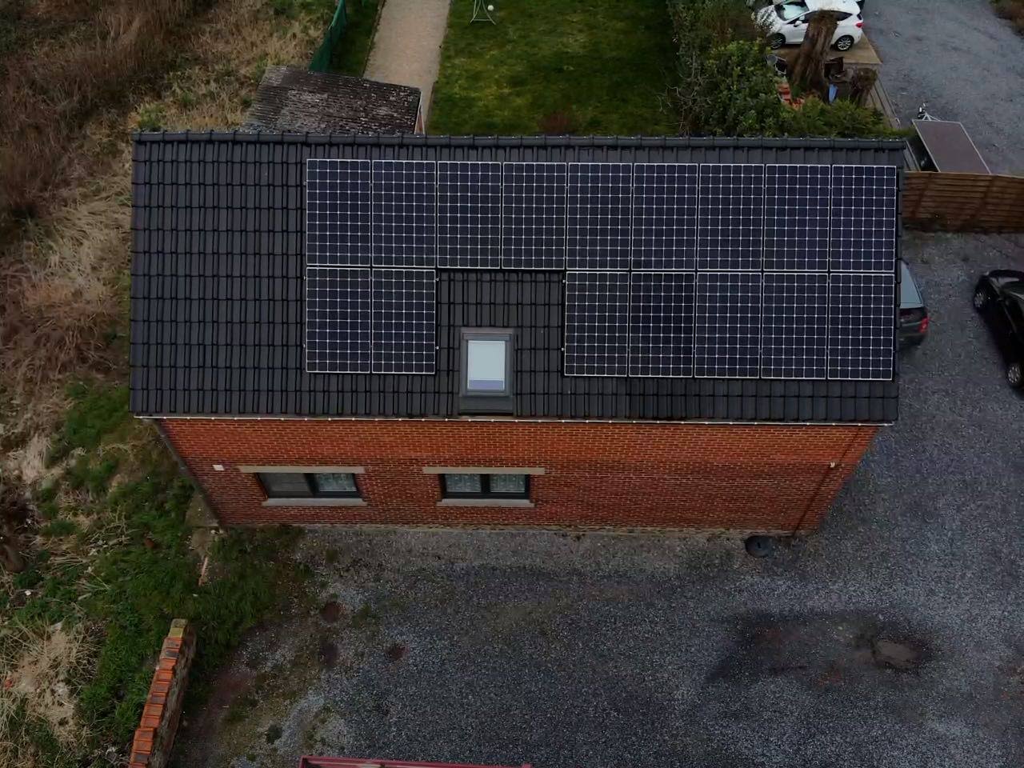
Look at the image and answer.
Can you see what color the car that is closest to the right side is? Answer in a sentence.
The color of the car that is closest to the right side is black.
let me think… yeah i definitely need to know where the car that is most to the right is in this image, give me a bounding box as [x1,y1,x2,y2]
[975,274,1024,390]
